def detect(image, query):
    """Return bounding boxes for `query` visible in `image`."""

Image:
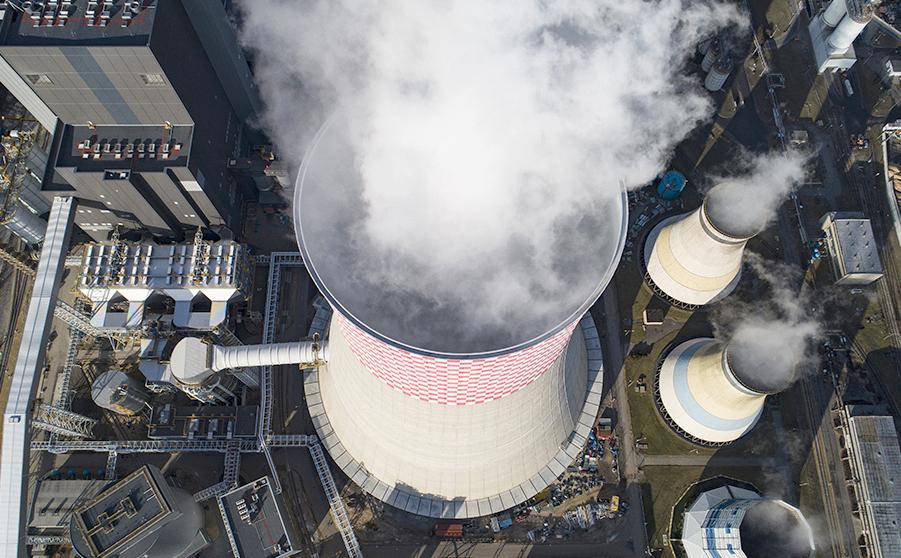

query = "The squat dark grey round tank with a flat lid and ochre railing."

[93,367,159,424]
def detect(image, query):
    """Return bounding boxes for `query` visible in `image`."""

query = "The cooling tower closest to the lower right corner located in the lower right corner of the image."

[667,477,818,558]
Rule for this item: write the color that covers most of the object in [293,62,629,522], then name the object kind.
white cooling tower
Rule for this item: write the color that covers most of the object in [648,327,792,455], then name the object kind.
white cooling tower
